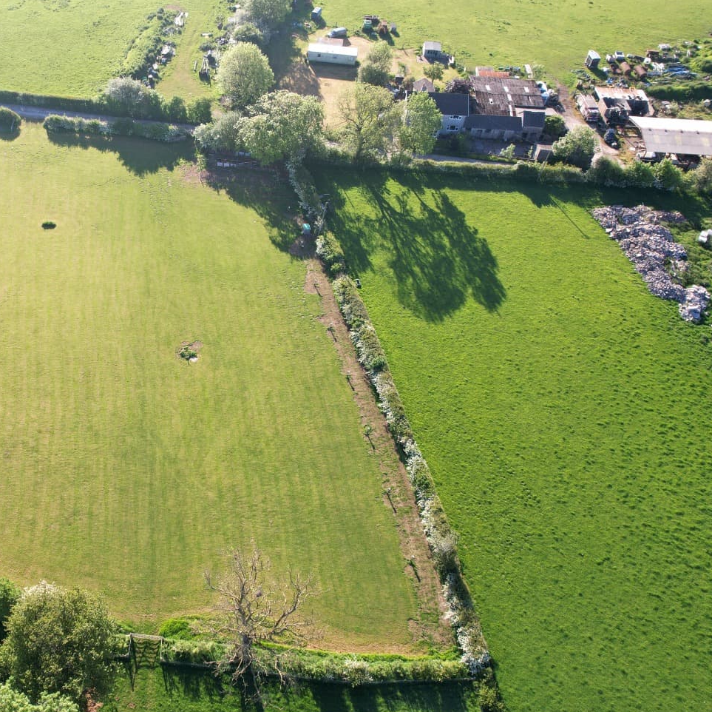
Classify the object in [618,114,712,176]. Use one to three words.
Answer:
barn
